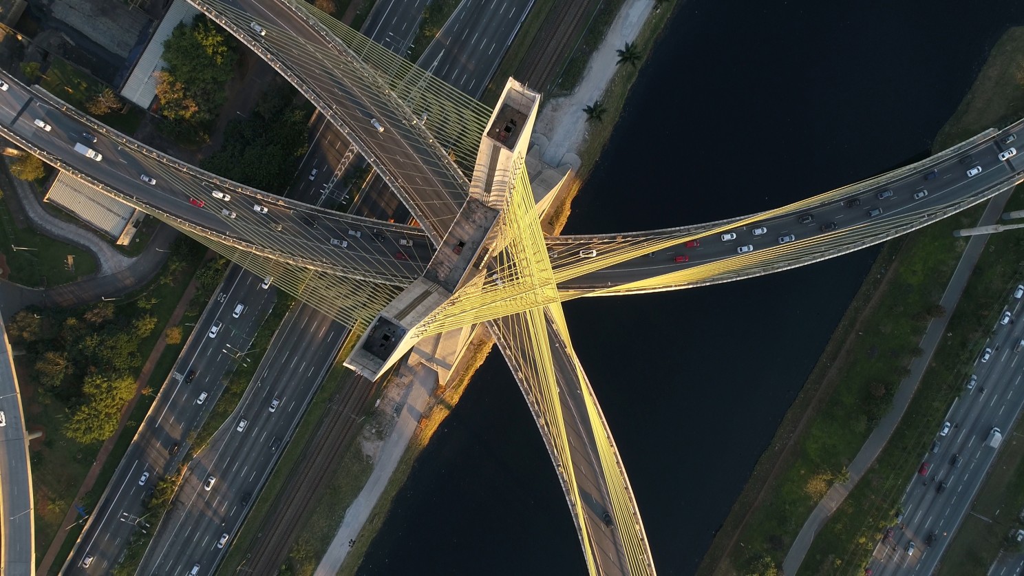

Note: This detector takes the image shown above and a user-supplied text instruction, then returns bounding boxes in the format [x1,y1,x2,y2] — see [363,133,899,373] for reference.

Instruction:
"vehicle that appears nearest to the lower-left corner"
[83,553,95,568]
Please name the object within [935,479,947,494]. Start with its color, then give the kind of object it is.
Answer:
black vehicle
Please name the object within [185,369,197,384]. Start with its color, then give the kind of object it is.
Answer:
black vehicle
